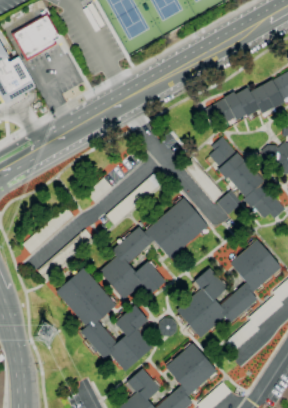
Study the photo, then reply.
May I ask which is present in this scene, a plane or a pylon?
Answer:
pylon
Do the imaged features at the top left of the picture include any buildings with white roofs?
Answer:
Yes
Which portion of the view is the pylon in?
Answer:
bottom left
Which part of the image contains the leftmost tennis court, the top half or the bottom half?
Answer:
top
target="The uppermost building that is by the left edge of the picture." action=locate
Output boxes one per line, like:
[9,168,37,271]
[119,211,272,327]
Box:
[12,12,58,60]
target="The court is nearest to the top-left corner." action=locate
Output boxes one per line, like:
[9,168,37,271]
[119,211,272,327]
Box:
[108,0,148,40]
